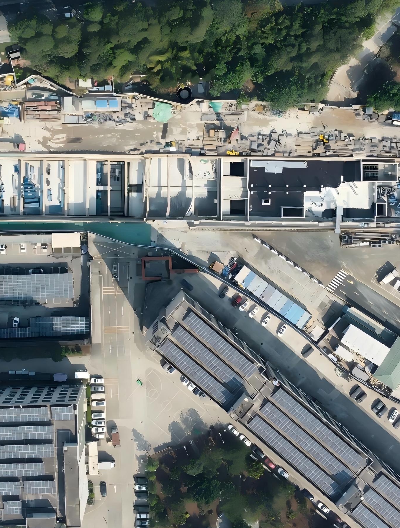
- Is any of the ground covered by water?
No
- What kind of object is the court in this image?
basketball court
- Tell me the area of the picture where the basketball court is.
bottom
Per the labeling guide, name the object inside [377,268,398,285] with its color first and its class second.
white vehicle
